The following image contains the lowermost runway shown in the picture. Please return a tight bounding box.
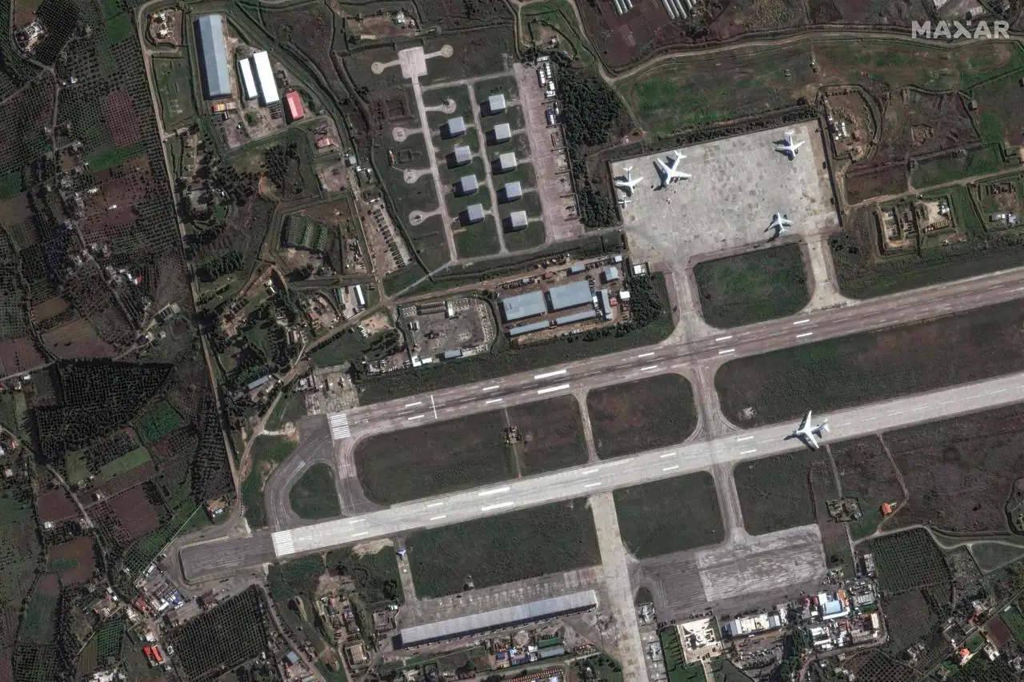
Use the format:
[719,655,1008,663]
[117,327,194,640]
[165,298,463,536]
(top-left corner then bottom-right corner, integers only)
[272,372,1024,557]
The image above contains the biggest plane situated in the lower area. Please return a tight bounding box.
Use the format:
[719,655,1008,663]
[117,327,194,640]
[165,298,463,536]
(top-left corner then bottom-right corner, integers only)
[797,410,832,444]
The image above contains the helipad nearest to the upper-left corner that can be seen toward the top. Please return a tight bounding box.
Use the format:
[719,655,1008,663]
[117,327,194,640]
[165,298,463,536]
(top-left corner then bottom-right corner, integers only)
[370,60,401,74]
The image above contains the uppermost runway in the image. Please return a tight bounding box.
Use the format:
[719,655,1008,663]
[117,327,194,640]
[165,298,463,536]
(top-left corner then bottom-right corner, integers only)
[330,267,1024,441]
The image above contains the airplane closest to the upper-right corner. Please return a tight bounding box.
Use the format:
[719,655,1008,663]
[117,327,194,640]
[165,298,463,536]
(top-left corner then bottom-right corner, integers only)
[778,131,806,156]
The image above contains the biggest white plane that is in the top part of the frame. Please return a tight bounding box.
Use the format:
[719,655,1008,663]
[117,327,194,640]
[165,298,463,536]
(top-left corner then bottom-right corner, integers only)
[657,150,693,186]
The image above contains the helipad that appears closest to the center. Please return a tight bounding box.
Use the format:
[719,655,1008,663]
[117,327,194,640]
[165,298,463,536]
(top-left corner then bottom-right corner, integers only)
[409,207,442,225]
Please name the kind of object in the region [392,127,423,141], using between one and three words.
helipad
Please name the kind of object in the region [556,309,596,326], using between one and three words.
shed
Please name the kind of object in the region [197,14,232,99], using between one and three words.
hangar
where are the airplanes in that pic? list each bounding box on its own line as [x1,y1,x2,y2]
[619,196,632,208]
[797,410,832,444]
[617,166,643,194]
[642,607,651,622]
[778,131,806,156]
[399,545,408,558]
[650,644,659,657]
[657,150,693,186]
[769,213,794,235]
